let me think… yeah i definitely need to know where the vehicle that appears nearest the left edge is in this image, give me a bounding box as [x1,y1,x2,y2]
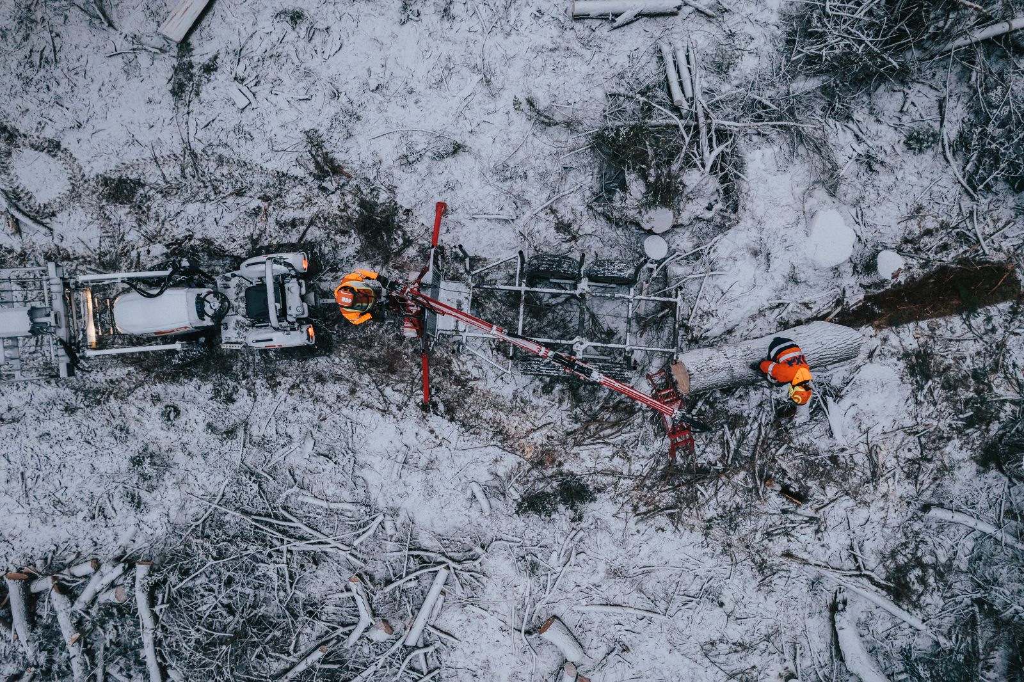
[68,239,337,366]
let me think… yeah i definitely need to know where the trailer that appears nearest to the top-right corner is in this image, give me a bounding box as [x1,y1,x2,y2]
[372,243,686,381]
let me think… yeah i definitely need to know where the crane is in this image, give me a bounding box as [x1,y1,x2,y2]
[384,196,713,431]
